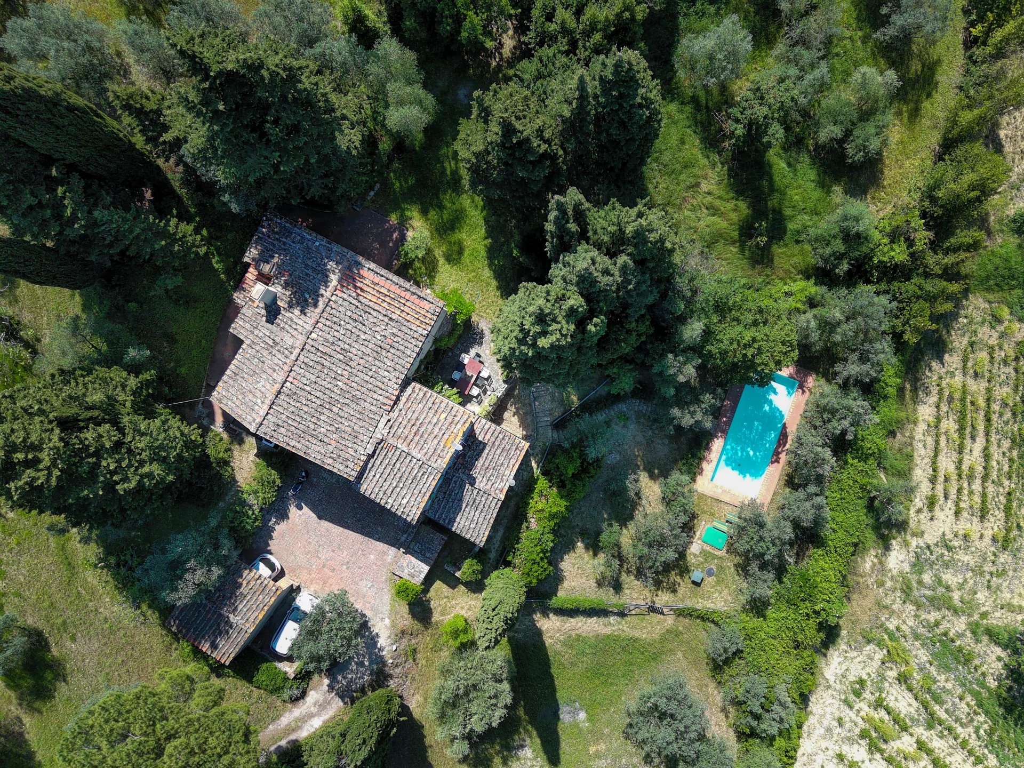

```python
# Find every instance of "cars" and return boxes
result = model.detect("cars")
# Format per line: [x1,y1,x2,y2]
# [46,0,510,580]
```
[254,550,289,580]
[274,581,329,657]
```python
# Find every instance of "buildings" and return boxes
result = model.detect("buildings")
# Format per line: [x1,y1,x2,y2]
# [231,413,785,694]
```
[208,210,532,548]
[163,552,309,667]
[393,522,450,585]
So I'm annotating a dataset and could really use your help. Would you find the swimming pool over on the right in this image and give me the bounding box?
[697,350,815,511]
